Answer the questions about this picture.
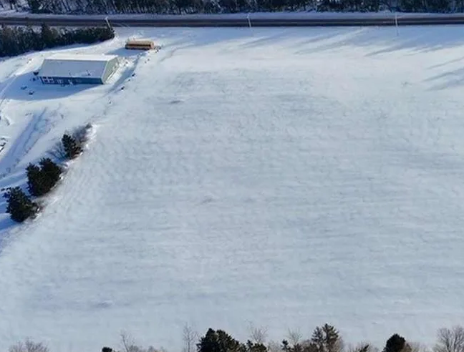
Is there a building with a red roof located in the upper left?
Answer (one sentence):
No, no building with a red roof can be made out in the upper left.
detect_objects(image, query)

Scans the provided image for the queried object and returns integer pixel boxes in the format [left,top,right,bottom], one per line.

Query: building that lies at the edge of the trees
[38,56,119,85]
